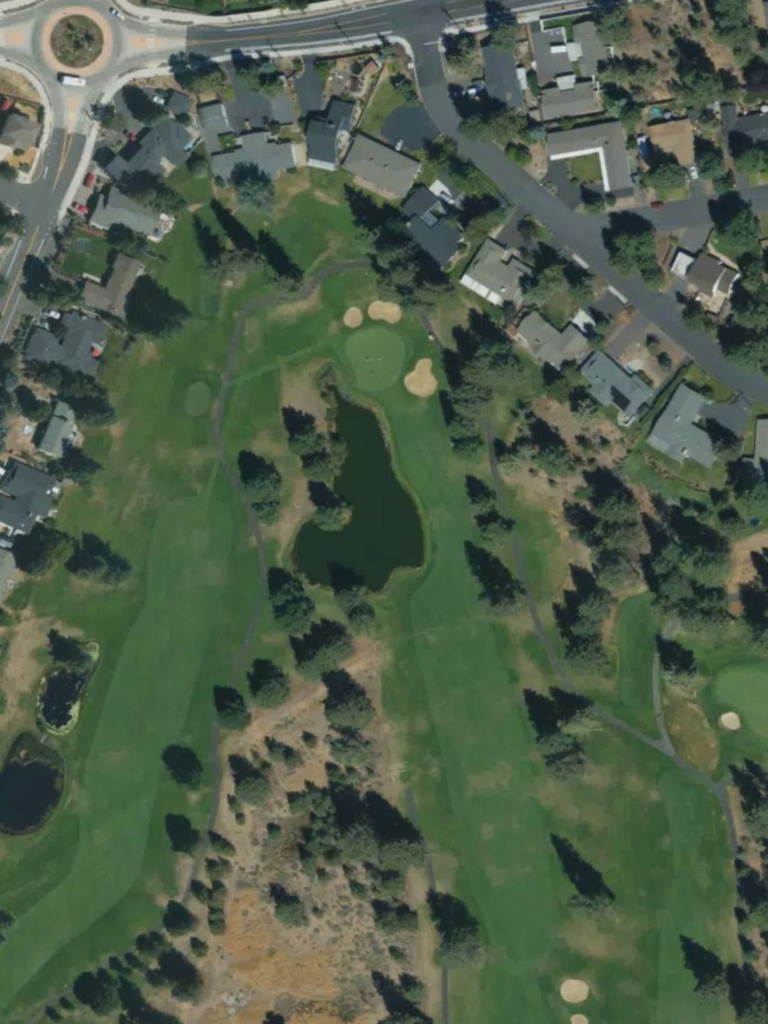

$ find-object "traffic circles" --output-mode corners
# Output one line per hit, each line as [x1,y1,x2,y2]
[0,0,186,133]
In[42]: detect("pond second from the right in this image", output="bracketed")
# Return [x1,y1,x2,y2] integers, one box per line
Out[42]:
[43,670,88,727]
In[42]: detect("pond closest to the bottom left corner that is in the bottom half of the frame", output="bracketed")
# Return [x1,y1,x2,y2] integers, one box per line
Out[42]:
[0,762,61,831]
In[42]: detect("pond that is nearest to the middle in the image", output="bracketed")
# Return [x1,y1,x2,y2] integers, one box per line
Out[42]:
[294,391,423,589]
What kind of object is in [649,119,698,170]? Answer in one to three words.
house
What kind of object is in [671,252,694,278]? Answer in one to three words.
building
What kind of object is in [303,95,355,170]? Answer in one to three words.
house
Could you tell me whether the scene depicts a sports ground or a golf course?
golf course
